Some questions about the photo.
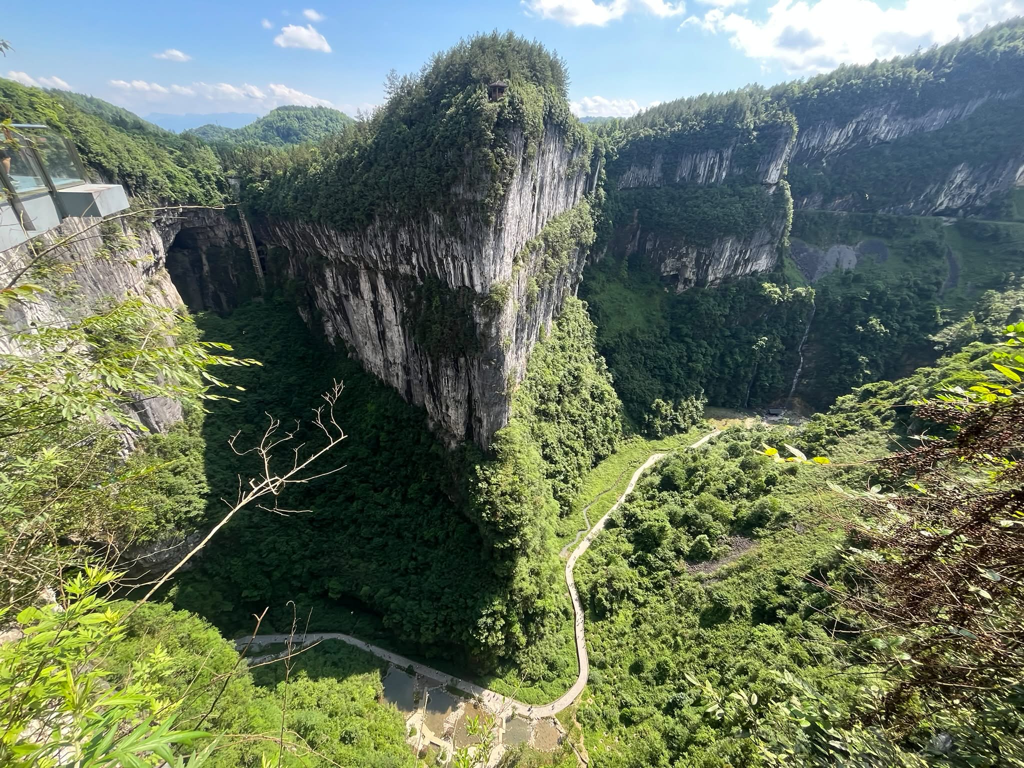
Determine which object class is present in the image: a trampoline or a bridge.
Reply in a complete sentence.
The one in the frame is a bridge.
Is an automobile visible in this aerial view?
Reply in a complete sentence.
No, there isn't any automobile down there.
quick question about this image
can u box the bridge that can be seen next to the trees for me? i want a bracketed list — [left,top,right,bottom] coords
[156,161,305,326]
